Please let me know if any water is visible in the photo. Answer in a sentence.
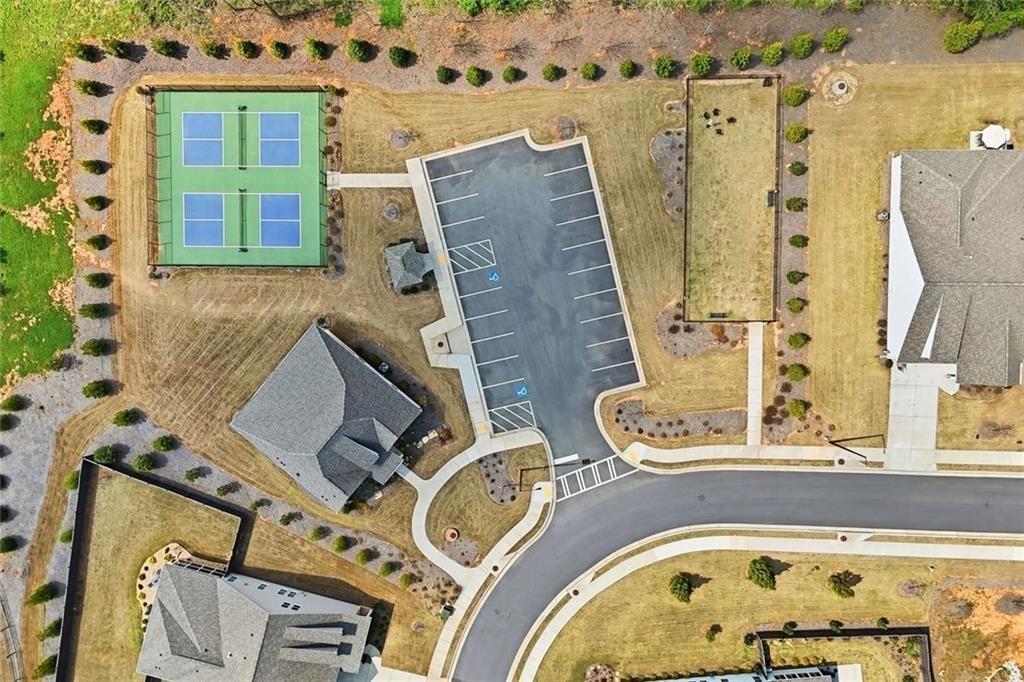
No, the scene doesn't show any water.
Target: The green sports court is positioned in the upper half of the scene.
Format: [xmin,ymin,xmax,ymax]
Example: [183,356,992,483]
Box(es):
[157,90,327,265]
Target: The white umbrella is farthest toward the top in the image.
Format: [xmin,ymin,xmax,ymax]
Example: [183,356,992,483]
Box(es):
[974,125,1003,149]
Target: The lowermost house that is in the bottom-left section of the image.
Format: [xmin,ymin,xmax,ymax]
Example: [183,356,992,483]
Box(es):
[134,549,373,682]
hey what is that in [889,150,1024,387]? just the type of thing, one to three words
house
